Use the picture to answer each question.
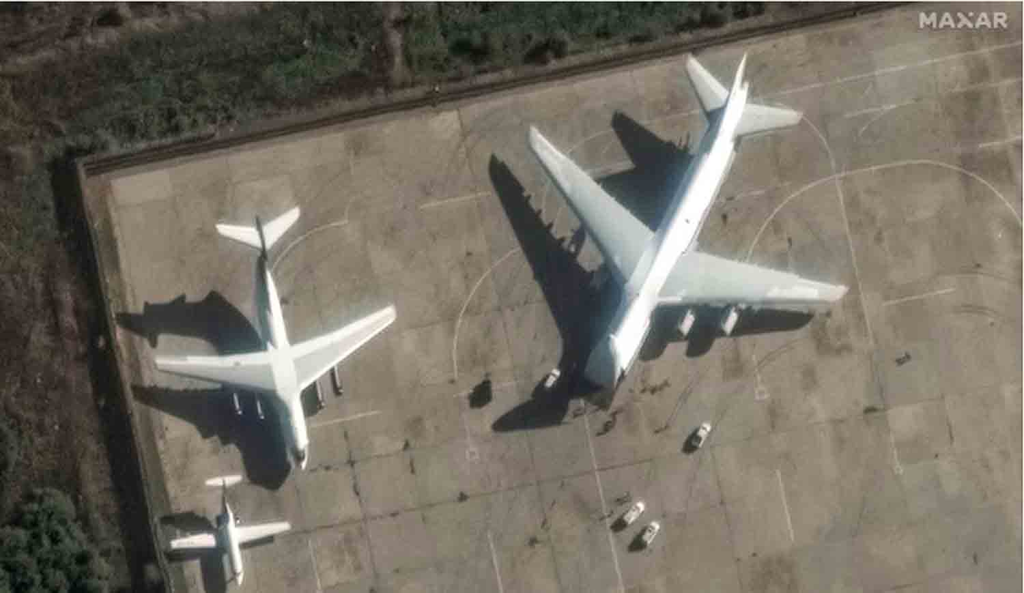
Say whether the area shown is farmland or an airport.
airport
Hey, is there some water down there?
No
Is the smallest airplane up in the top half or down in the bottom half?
bottom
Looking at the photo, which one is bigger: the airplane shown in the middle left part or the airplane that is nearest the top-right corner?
the airplane that is nearest the top-right corner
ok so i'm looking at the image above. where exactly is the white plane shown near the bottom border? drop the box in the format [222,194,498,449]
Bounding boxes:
[171,475,292,586]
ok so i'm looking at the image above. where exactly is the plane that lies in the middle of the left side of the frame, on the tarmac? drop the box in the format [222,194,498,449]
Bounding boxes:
[154,206,394,470]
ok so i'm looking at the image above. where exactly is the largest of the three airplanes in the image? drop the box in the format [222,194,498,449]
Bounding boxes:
[526,53,848,411]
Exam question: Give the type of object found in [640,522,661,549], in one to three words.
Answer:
truck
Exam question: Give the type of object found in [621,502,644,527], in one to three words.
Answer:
truck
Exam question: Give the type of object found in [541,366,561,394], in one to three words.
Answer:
vehicle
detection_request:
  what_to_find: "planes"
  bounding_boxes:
[171,475,292,586]
[154,206,394,470]
[526,53,848,411]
